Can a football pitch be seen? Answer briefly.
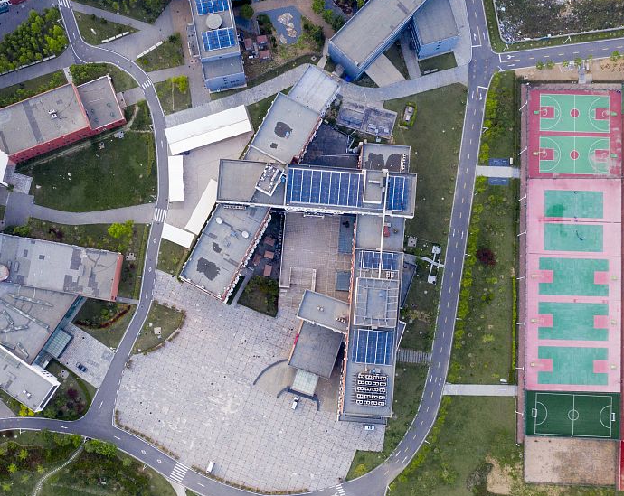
Yes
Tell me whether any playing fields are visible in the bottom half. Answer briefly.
Yes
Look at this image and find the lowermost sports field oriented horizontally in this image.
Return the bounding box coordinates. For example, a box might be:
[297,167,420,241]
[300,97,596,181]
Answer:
[524,439,619,488]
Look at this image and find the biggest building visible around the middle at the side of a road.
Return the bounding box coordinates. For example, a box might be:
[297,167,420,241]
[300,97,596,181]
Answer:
[179,64,417,424]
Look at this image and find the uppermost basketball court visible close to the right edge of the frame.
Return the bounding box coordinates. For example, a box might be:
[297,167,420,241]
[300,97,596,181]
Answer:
[540,93,610,131]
